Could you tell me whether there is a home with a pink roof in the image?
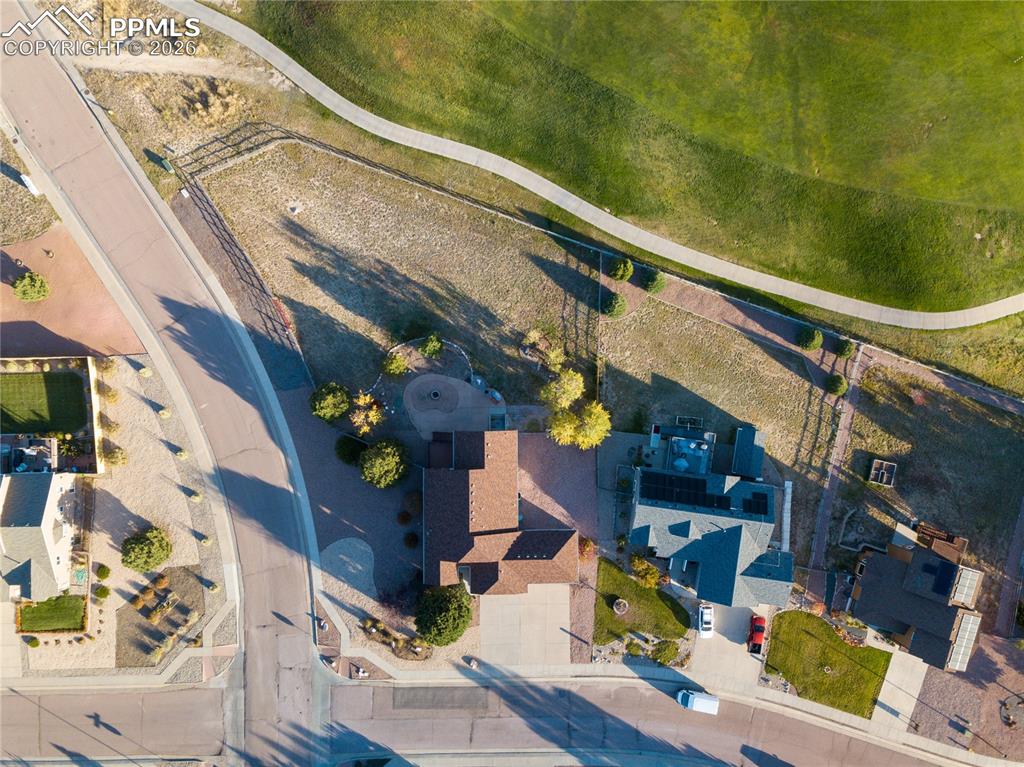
No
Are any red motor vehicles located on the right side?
Yes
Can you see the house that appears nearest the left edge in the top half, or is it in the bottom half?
bottom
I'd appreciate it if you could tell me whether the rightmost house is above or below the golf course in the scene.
below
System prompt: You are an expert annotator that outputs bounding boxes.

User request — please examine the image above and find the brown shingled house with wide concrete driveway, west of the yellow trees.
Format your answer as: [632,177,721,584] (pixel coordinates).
[423,429,578,594]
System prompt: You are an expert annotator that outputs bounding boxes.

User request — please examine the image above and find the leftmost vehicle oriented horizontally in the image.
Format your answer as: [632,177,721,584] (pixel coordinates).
[676,692,723,719]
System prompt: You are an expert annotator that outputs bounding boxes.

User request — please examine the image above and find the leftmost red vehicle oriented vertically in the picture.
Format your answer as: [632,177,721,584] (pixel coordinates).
[746,616,768,658]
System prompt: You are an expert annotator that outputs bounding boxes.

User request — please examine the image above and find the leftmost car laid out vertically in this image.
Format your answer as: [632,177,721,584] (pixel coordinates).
[700,604,716,638]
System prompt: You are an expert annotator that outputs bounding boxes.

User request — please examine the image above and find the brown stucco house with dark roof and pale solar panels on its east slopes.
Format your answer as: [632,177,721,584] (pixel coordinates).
[837,521,976,669]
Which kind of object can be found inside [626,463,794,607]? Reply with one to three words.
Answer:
house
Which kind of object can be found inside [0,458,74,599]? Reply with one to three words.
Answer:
house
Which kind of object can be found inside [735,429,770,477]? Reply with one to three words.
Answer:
shed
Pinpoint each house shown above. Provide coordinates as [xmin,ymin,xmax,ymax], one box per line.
[626,463,794,607]
[0,458,74,599]
[423,429,578,594]
[837,521,976,669]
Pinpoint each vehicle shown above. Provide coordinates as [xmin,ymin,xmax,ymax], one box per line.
[676,692,723,719]
[700,604,716,638]
[746,616,768,658]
